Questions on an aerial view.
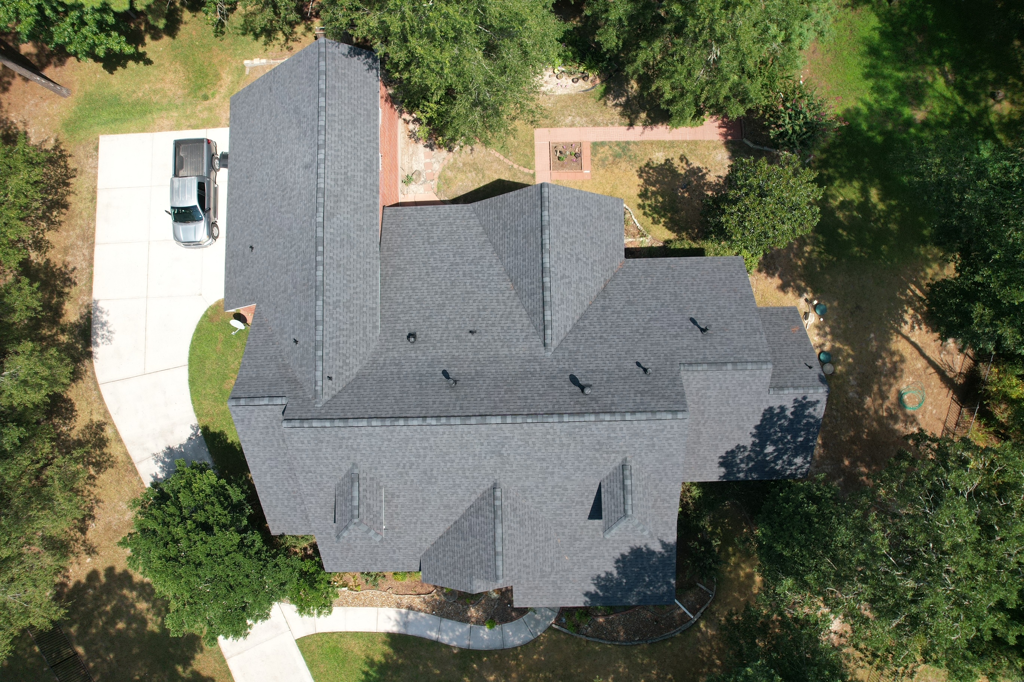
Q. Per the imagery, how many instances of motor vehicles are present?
1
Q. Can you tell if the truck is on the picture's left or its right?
left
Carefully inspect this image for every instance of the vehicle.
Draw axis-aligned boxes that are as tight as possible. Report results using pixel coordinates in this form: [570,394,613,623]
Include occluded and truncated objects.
[166,138,222,249]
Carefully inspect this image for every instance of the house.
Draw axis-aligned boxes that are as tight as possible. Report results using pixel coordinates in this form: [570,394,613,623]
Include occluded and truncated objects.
[224,36,828,604]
